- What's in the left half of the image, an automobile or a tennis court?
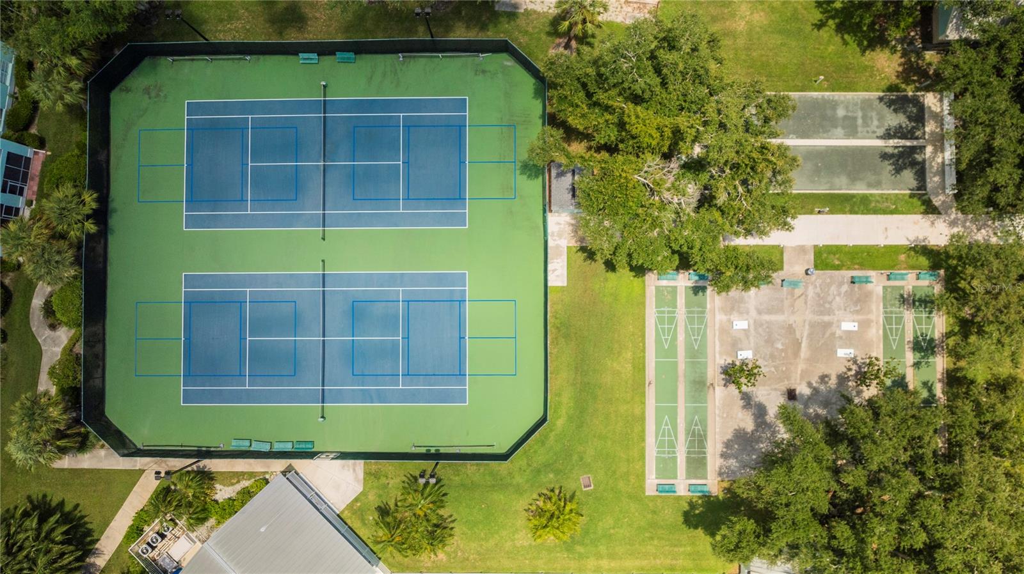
tennis court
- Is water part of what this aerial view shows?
No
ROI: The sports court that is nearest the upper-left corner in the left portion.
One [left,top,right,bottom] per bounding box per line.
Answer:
[138,127,298,202]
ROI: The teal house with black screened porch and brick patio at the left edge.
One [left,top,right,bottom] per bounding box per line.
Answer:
[0,138,34,220]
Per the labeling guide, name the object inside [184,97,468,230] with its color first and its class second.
blue tennis court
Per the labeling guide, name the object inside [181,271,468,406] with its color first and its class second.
blue tennis court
